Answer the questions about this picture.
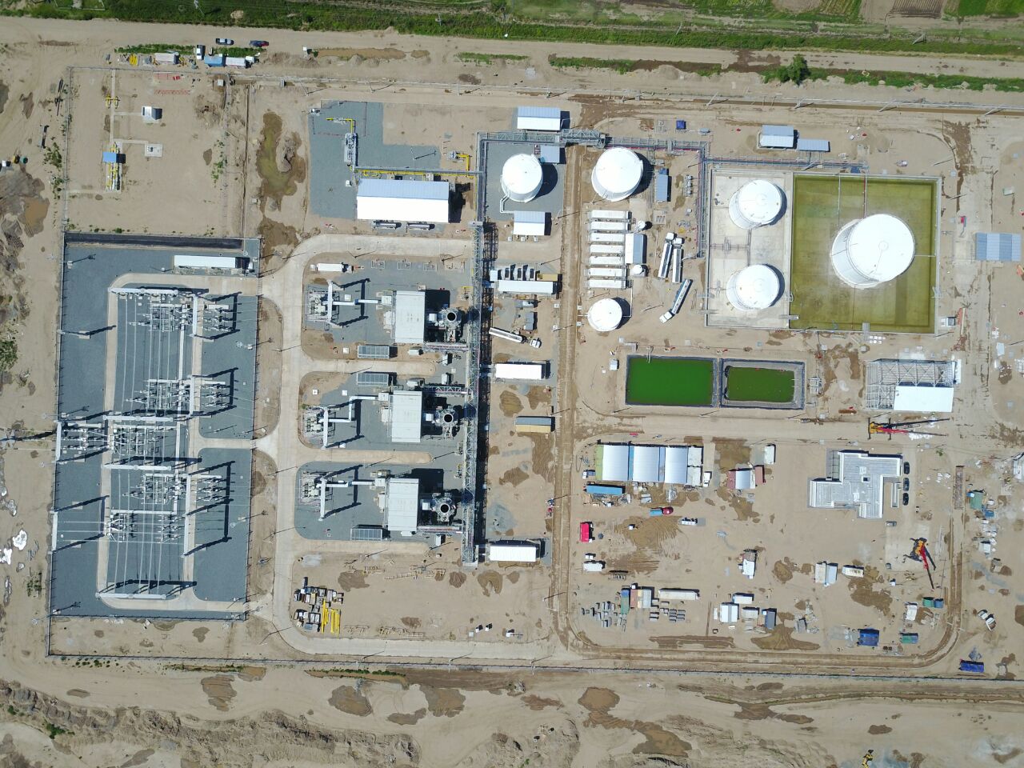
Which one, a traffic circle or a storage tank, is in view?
storage tank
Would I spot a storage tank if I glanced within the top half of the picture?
Yes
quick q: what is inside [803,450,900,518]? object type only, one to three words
building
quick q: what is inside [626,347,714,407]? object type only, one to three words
pond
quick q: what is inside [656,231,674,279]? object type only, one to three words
vehicle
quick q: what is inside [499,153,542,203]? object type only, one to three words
storage tank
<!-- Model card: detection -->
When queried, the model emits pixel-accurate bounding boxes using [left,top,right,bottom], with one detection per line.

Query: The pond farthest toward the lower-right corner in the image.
[718,359,805,409]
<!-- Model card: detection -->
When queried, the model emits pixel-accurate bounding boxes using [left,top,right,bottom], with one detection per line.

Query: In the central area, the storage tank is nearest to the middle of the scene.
[586,298,623,333]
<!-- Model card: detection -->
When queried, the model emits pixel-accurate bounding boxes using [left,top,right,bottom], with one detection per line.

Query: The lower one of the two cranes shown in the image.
[902,534,936,590]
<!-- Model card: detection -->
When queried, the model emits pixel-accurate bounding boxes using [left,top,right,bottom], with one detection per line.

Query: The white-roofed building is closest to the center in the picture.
[495,362,542,380]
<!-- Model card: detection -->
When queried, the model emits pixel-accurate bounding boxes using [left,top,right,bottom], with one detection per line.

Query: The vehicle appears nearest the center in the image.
[489,327,540,348]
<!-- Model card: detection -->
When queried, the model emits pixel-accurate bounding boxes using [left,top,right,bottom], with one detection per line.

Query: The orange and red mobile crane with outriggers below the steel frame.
[865,416,950,440]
